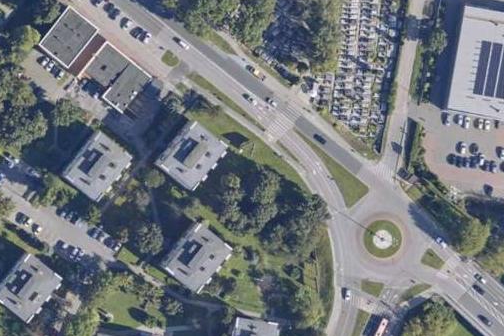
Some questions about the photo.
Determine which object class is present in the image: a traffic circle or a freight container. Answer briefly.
traffic circle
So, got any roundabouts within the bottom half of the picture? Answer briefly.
Yes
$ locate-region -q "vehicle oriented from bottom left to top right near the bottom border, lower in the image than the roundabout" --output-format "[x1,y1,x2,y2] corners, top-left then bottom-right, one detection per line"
[374,316,391,336]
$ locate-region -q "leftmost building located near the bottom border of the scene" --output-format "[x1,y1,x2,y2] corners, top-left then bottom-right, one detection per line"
[0,253,63,323]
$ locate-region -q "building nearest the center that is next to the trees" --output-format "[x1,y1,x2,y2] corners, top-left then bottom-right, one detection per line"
[156,121,229,190]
